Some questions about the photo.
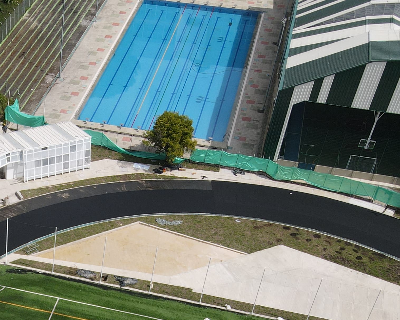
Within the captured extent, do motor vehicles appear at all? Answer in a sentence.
No, this view has no motor vehicle in it.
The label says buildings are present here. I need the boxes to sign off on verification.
[0,122,93,183]
[260,0,400,187]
